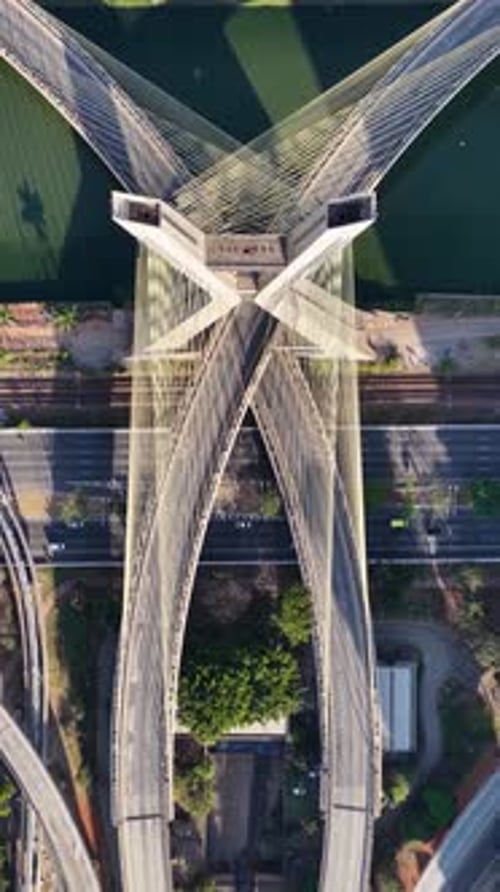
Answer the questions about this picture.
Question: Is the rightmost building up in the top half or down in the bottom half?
bottom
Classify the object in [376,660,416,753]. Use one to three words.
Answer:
building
